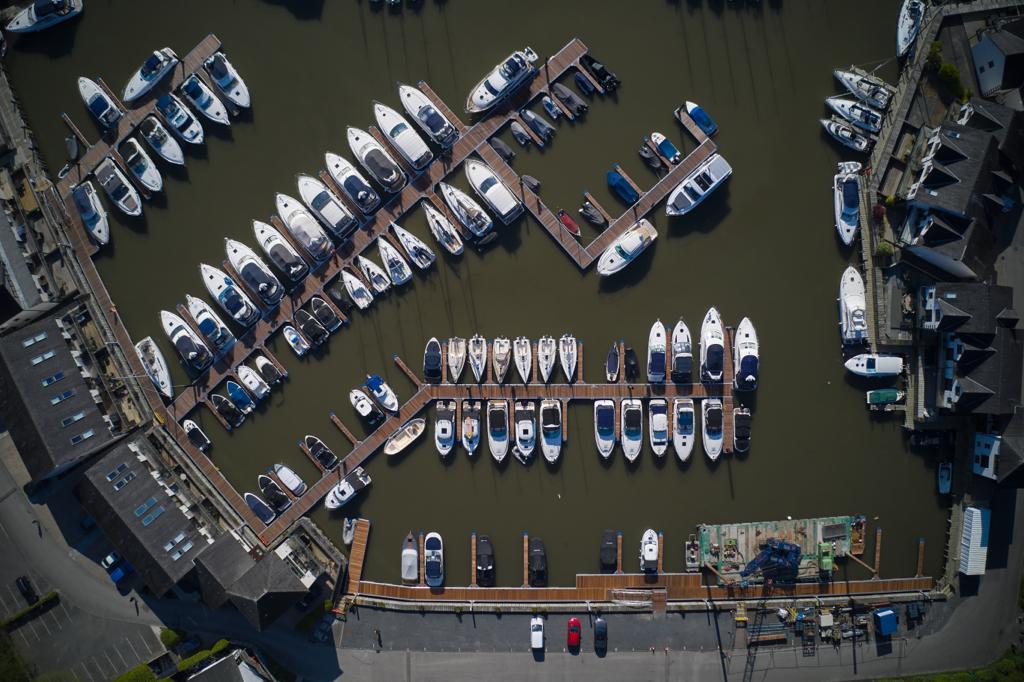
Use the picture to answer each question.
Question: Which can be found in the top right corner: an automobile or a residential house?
residential house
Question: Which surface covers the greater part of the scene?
water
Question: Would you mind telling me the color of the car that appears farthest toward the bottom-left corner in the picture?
black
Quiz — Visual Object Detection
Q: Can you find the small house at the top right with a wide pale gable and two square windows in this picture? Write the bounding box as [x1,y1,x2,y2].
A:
[966,27,1024,99]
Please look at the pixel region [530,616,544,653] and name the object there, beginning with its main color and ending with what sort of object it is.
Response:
white car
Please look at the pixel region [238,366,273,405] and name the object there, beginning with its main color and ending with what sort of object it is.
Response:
white boat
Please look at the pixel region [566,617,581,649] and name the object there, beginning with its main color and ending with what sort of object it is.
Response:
red car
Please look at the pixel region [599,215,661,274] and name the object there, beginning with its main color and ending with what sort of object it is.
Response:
white boat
